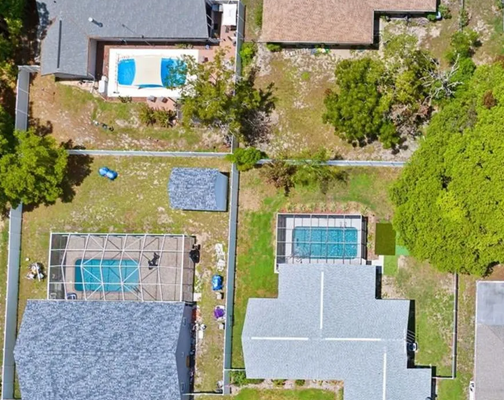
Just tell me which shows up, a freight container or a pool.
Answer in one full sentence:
The one in the frame is a pool.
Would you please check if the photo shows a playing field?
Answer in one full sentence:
No, no playing field is visible in the view.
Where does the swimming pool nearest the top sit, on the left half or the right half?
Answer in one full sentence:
You can find the swimming pool nearest the top on the left side of the picture.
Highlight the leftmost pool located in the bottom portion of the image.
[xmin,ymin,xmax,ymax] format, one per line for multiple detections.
[67,237,195,303]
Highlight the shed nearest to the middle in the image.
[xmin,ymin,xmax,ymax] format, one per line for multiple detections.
[165,168,227,211]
